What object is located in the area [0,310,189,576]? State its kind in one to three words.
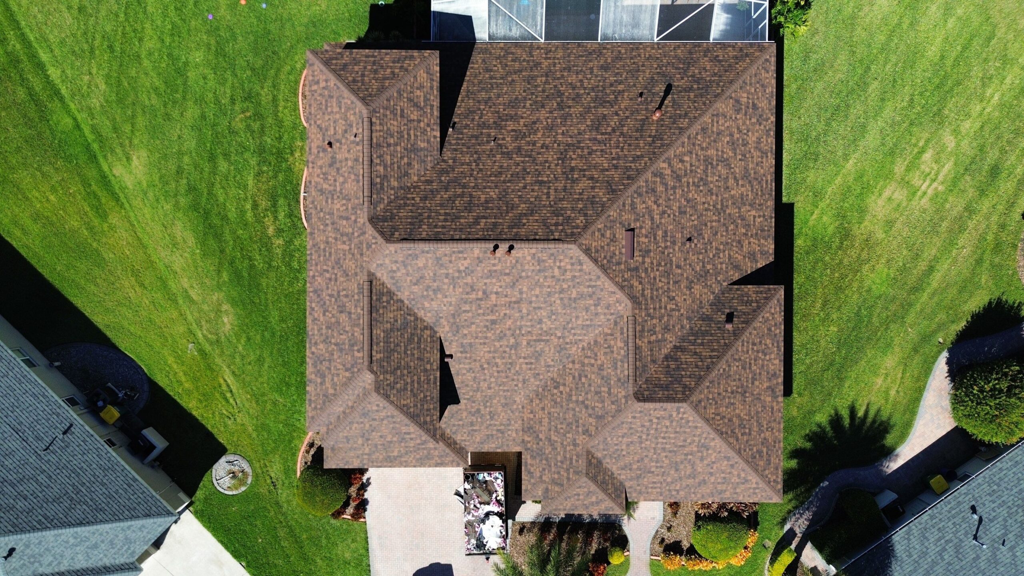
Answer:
house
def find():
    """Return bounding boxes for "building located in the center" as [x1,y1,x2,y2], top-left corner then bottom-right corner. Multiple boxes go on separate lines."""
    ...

[301,40,783,514]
